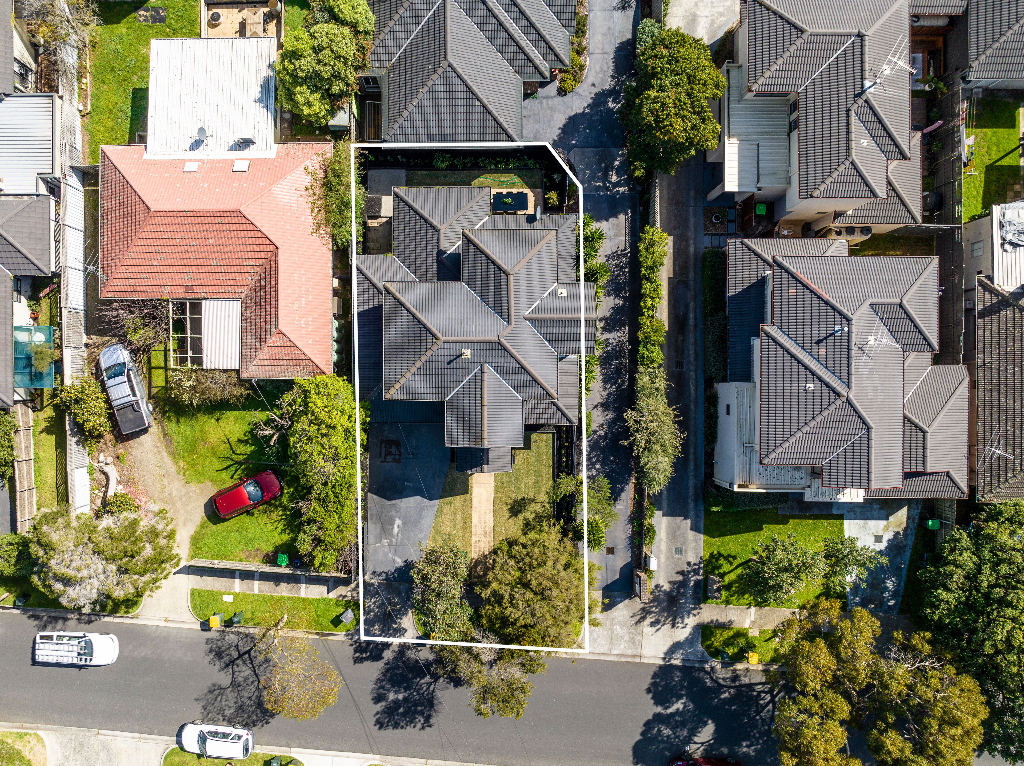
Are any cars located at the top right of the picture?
No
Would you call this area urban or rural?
urban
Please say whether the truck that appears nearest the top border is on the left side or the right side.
left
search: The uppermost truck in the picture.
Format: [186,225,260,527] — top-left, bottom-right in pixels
[96,341,155,436]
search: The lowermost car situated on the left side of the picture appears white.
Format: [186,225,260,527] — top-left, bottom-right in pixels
[179,718,256,762]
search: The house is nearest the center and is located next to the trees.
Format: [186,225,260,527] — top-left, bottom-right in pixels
[351,184,599,475]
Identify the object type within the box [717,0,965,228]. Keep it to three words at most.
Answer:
house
